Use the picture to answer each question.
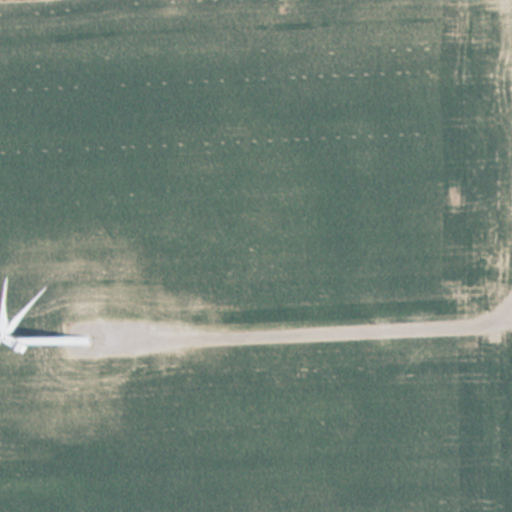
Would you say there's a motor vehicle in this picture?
No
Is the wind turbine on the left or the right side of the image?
left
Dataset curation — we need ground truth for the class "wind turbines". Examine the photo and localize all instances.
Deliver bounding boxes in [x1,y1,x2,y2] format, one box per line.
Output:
[0,278,94,354]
